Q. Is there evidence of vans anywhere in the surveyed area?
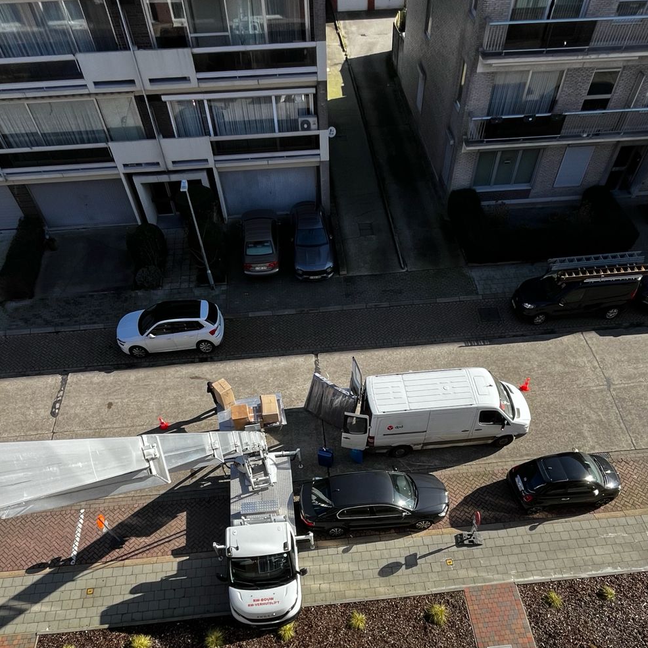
Yes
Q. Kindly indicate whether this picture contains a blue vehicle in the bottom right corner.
No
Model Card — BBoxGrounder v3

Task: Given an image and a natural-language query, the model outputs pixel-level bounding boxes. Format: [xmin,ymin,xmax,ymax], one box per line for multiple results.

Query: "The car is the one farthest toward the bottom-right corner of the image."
[509,443,622,507]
